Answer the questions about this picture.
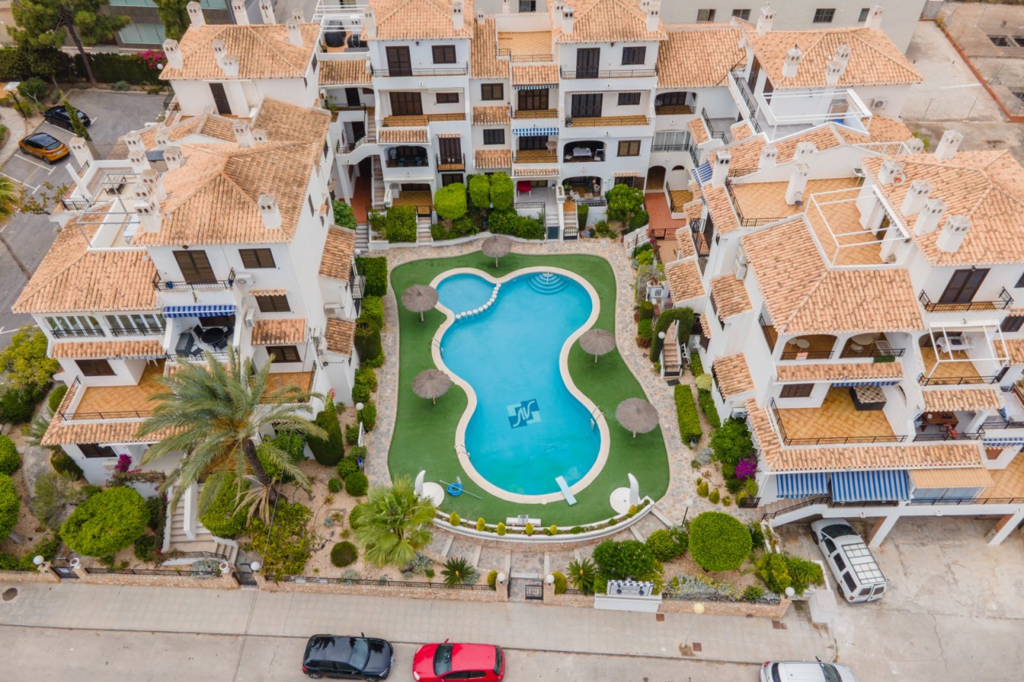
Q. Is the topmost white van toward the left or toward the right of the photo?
right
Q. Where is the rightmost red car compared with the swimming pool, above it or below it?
below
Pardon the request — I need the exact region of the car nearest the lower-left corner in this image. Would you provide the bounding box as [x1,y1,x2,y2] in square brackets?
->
[299,630,396,682]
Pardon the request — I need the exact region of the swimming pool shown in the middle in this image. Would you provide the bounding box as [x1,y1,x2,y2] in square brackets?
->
[432,266,609,502]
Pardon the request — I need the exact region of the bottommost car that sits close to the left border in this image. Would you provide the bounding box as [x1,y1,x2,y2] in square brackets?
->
[22,137,62,165]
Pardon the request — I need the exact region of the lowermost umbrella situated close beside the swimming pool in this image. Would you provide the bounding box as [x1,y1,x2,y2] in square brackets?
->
[613,395,663,438]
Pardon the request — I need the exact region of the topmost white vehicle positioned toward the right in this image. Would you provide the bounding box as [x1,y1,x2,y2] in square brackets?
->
[809,518,885,607]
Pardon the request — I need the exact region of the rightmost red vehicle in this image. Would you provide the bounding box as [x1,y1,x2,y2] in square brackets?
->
[413,637,506,682]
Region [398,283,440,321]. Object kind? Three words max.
umbrella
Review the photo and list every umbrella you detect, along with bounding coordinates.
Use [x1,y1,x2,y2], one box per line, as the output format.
[613,395,663,438]
[575,322,621,362]
[476,230,516,267]
[398,283,440,321]
[408,362,454,404]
